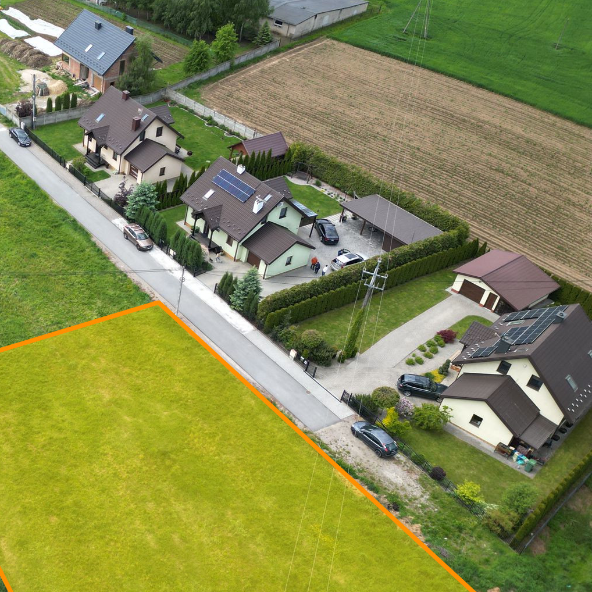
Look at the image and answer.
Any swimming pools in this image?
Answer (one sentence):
No, I can't see a single swimming pool in this photo.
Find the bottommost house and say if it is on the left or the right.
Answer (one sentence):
The bottommost house appears in the right half of the scene.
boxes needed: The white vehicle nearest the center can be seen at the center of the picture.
[331,245,368,271]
